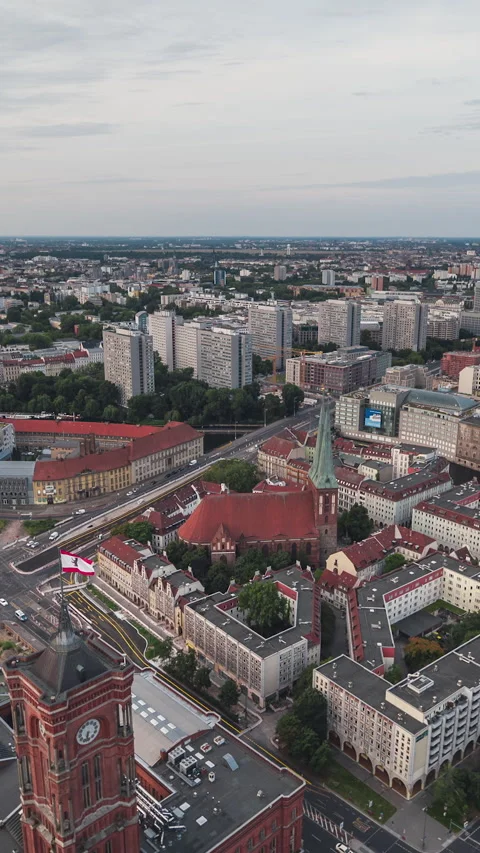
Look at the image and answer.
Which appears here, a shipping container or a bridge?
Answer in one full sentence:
This aerial view contains a bridge.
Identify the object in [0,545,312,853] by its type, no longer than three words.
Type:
building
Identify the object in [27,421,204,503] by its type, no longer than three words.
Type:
building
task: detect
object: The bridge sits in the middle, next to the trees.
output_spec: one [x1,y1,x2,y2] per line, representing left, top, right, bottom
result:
[202,412,318,459]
